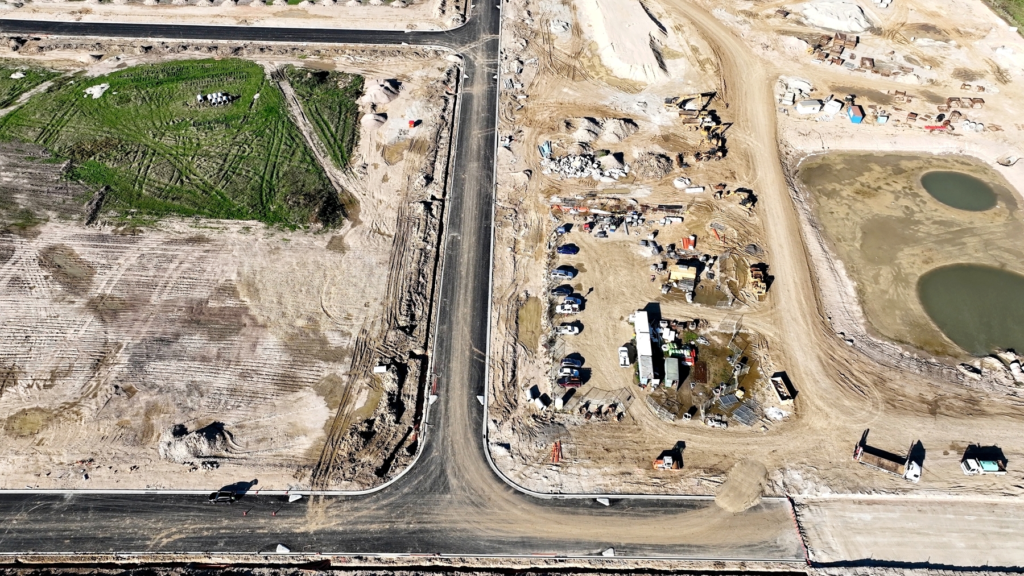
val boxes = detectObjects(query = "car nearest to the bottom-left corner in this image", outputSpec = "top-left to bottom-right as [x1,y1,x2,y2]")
[206,490,241,505]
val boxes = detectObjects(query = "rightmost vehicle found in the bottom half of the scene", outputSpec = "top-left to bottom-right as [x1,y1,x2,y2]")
[962,457,1014,477]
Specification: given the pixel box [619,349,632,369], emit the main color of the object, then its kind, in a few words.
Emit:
white vehicle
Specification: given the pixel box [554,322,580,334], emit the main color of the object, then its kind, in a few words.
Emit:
white vehicle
